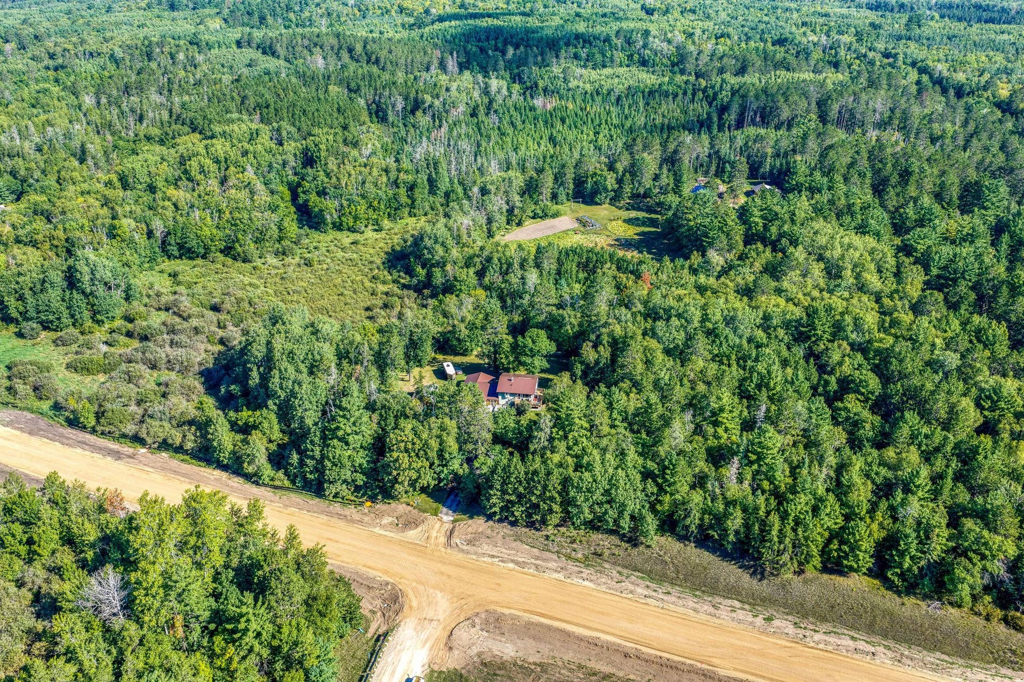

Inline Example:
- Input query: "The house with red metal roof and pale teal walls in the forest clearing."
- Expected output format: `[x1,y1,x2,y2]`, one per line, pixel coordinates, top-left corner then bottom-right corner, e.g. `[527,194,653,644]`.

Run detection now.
[466,371,547,410]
